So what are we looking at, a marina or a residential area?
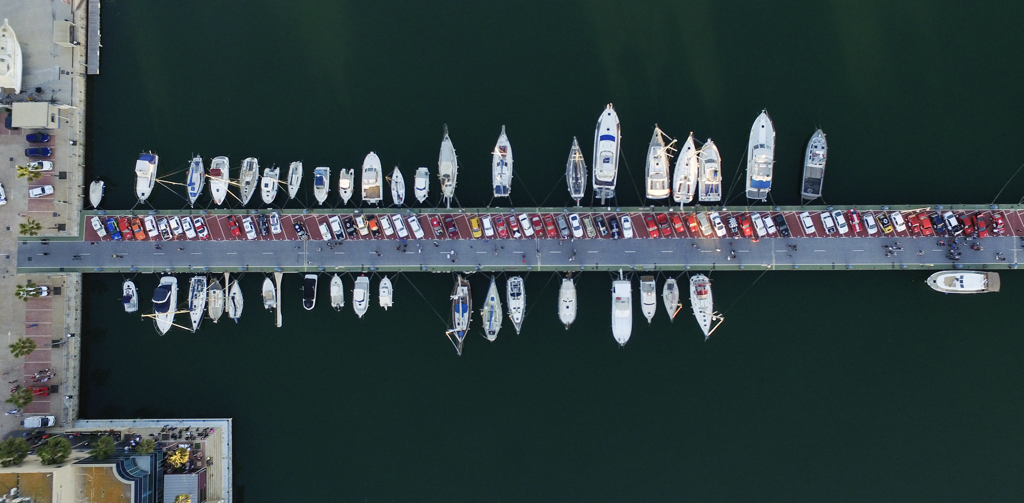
marina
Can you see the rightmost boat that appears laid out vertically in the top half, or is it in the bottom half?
top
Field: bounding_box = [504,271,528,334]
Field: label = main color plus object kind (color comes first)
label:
white boat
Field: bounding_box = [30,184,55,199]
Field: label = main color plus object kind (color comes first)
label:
white car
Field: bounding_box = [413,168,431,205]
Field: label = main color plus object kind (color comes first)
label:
white boat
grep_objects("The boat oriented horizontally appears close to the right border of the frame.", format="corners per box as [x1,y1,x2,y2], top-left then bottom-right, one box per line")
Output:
[926,270,1007,294]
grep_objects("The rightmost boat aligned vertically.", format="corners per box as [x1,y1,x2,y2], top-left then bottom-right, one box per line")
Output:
[801,129,829,204]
